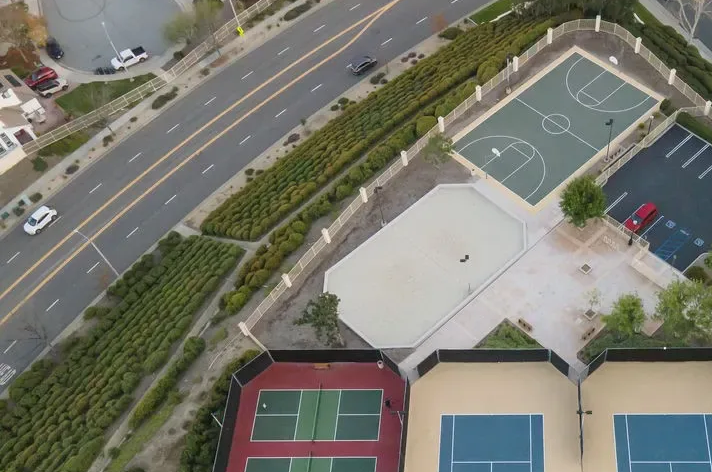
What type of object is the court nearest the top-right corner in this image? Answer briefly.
basketball court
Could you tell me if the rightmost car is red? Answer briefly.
Yes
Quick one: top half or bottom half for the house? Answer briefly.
top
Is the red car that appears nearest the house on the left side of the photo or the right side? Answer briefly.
left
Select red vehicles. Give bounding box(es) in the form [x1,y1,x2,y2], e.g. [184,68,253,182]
[626,201,660,230]
[23,64,56,86]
